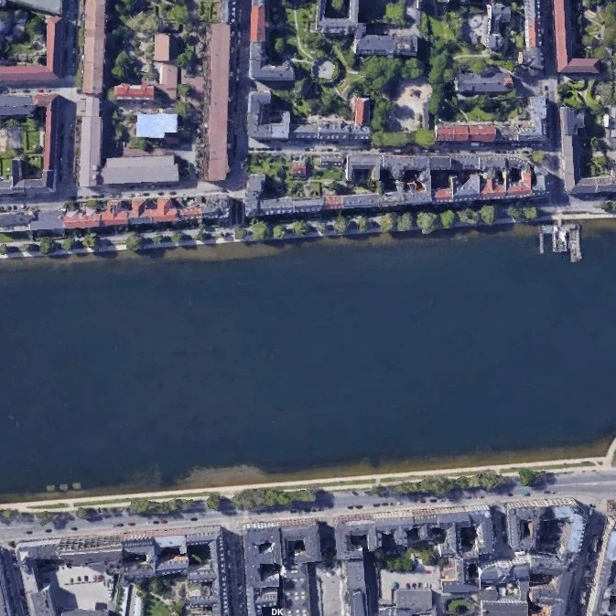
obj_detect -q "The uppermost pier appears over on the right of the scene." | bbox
[539,220,582,262]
